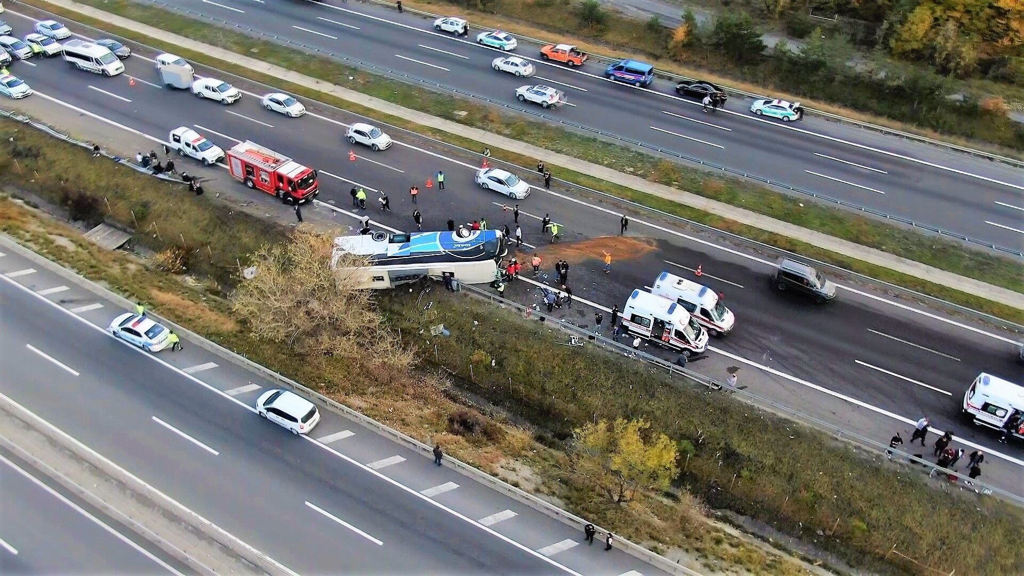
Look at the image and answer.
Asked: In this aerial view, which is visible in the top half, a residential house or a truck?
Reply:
truck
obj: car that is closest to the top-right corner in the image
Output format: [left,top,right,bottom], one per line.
[749,99,800,125]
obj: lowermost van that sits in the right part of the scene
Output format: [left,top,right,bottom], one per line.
[962,367,1024,436]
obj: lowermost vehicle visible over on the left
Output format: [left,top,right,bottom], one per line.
[253,389,324,438]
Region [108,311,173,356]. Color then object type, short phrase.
white car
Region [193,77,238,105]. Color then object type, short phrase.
white car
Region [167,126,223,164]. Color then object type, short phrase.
white truck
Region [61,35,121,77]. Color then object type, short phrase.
white vehicle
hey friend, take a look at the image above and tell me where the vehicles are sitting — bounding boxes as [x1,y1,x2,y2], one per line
[193,77,238,105]
[473,168,530,201]
[0,77,33,102]
[260,93,306,119]
[673,80,727,106]
[151,52,195,75]
[604,60,657,90]
[475,31,518,53]
[61,35,121,77]
[539,44,590,69]
[431,16,471,38]
[749,99,800,125]
[253,389,324,438]
[0,19,17,36]
[21,32,63,58]
[618,287,710,357]
[167,126,223,164]
[514,86,562,112]
[223,139,318,206]
[962,367,1024,436]
[344,122,392,152]
[0,49,14,67]
[767,256,840,303]
[108,311,173,356]
[0,35,34,61]
[490,58,535,81]
[33,21,73,42]
[648,268,737,336]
